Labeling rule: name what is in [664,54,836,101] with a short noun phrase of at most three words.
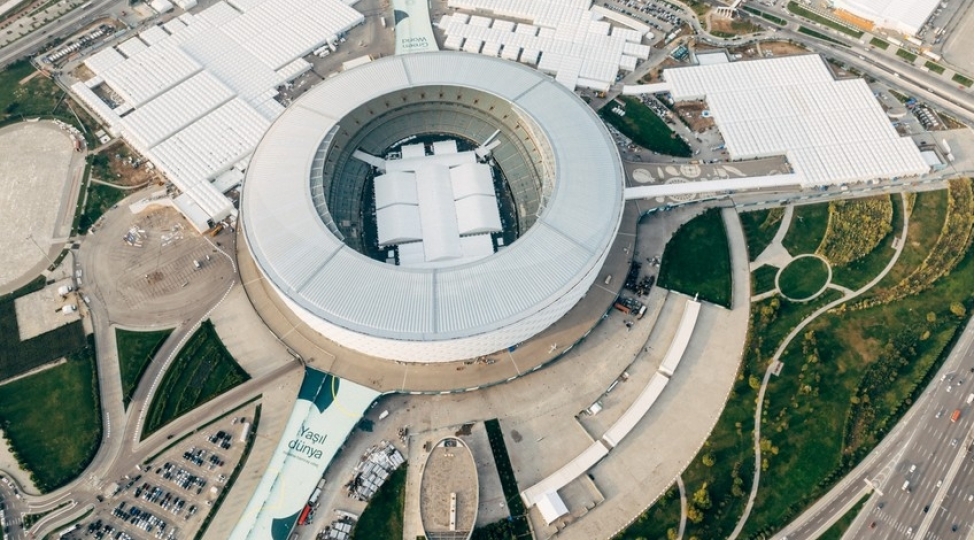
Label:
building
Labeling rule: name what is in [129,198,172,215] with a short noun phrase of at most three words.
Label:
shed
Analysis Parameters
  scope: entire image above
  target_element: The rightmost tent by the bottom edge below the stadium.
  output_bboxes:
[536,490,569,528]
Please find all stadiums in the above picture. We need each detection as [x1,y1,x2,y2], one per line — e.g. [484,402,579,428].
[246,55,621,361]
